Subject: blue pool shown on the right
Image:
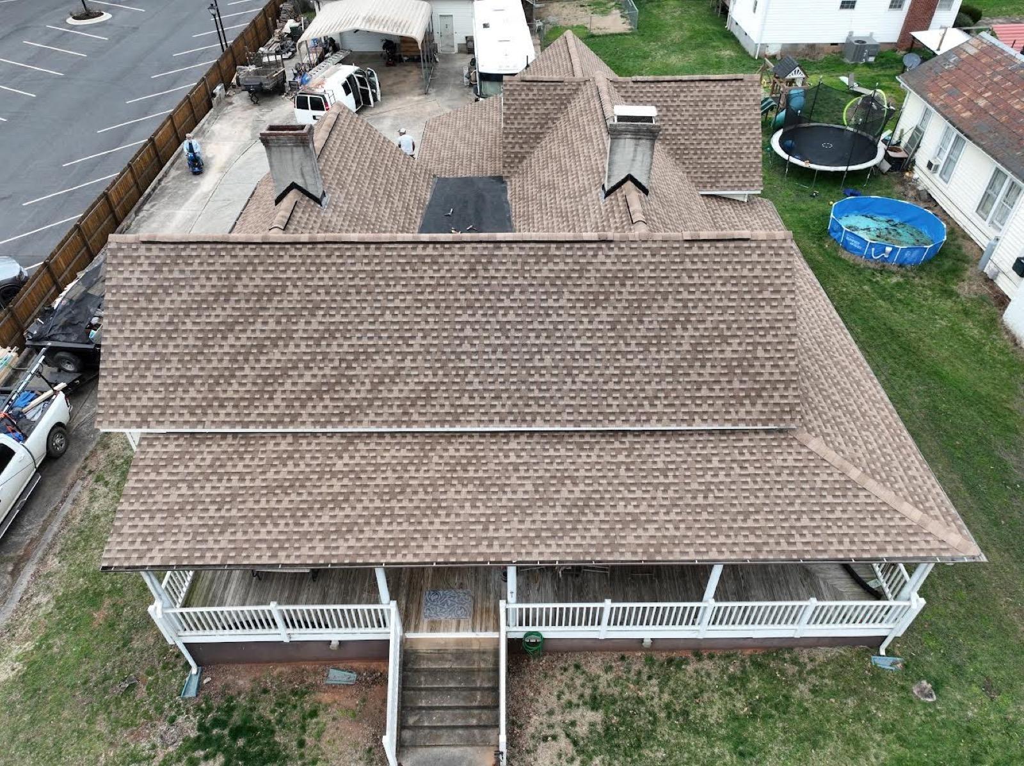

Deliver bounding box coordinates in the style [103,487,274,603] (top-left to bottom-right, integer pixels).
[820,194,947,268]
